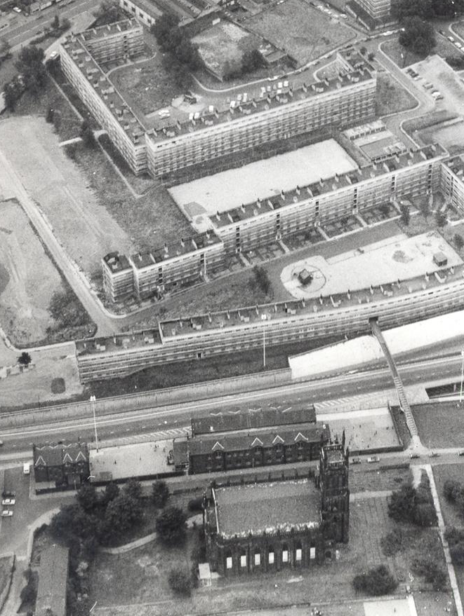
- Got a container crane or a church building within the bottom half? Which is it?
church building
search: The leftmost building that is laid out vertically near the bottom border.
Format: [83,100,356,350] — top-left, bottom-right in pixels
[38,541,80,616]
